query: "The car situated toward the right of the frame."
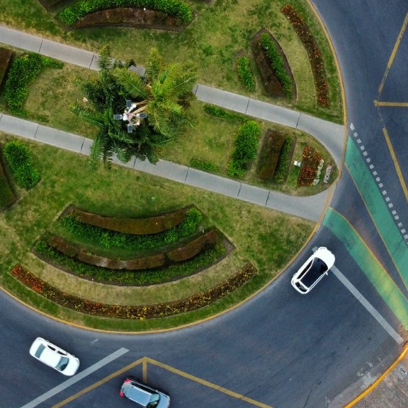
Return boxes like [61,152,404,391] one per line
[291,244,335,299]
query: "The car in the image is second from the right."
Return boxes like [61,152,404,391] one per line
[117,376,170,408]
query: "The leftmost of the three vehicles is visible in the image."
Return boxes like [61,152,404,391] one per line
[27,336,81,376]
